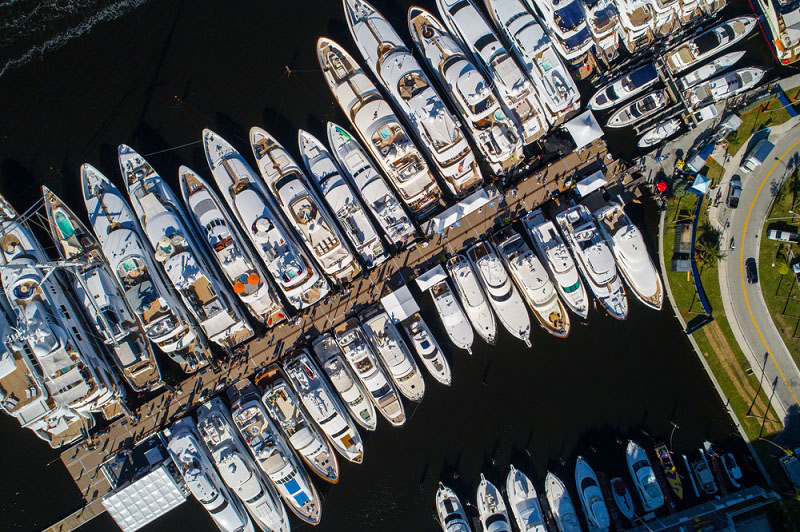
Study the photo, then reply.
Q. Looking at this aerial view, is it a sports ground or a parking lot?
parking lot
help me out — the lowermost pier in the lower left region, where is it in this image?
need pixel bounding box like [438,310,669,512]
[38,493,109,532]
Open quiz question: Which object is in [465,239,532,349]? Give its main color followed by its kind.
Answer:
white boat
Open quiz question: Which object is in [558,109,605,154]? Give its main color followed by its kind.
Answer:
white tent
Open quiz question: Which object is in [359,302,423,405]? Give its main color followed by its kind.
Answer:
white boat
